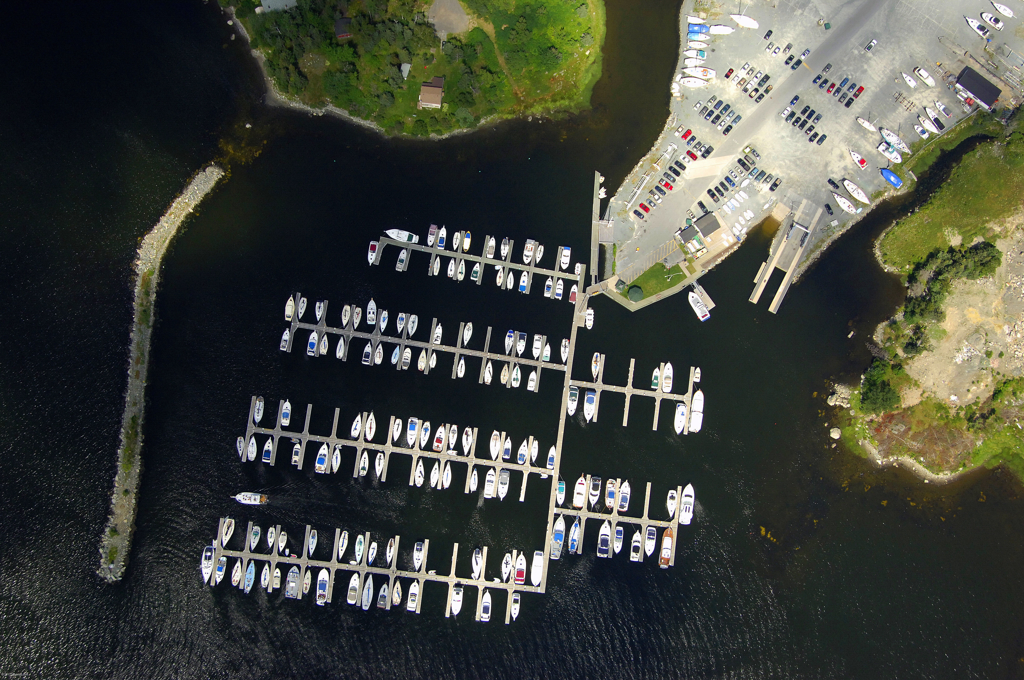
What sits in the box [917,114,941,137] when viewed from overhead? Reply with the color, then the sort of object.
white boat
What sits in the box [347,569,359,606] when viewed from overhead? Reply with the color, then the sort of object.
white boat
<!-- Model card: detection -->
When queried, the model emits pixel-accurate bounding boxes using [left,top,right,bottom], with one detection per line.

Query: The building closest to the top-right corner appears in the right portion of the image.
[952,66,1002,112]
